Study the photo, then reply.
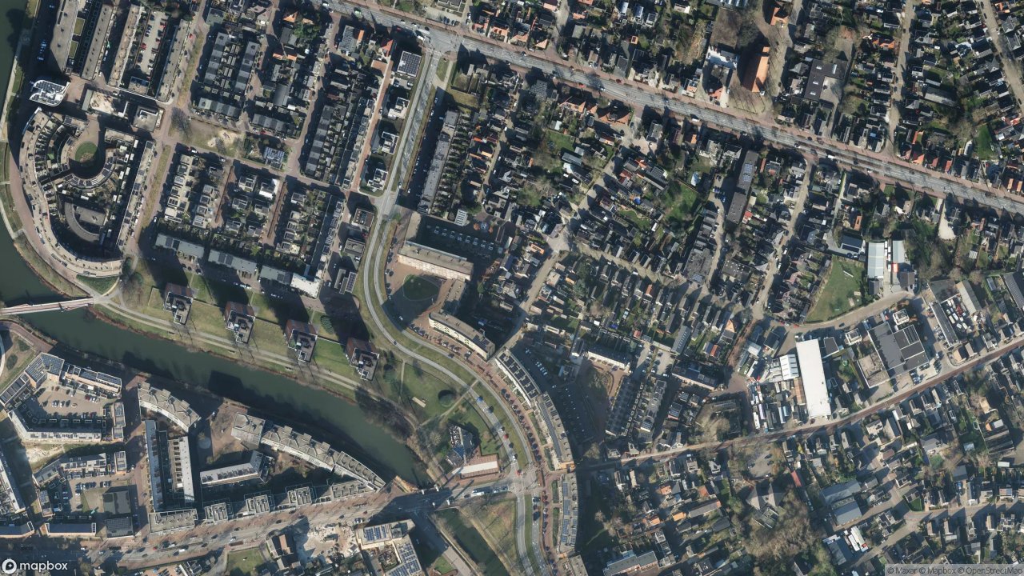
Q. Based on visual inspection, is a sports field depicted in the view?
Yes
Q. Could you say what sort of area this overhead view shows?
residential area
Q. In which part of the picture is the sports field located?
right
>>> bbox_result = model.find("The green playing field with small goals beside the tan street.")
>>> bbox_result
[805,254,867,321]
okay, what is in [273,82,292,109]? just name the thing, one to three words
house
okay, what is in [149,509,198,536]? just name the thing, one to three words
building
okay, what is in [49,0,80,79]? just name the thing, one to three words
building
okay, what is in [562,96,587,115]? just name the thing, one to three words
house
